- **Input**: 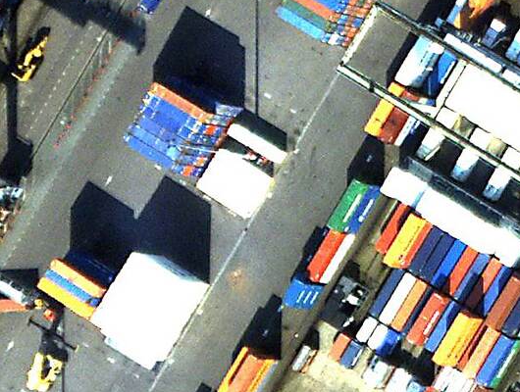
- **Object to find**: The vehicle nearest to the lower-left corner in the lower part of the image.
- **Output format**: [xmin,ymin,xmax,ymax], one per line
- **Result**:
[17,328,73,392]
